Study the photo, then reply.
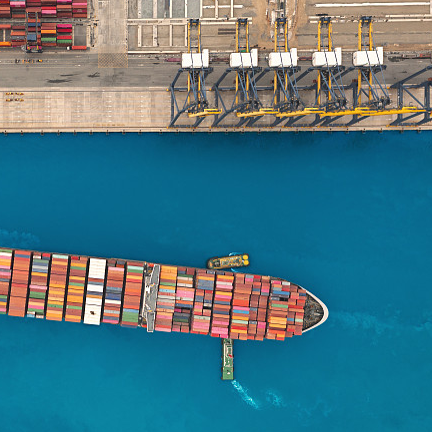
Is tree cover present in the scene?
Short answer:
No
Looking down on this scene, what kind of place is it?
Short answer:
port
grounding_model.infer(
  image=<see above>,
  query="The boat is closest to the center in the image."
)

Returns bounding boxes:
[207,252,250,269]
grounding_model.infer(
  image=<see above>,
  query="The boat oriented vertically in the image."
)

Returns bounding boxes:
[221,337,234,380]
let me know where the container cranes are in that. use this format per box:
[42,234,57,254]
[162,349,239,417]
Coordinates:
[314,16,423,127]
[279,16,377,128]
[383,52,432,127]
[165,16,226,128]
[206,16,281,128]
[25,11,42,54]
[241,16,327,128]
